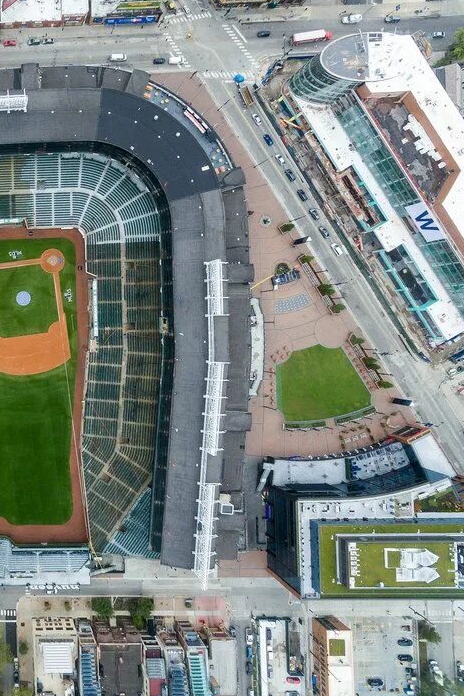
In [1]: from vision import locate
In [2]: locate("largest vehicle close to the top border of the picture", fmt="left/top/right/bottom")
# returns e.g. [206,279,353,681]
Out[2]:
[289,29,333,45]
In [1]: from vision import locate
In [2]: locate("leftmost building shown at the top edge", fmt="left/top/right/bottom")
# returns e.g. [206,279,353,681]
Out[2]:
[0,0,61,31]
